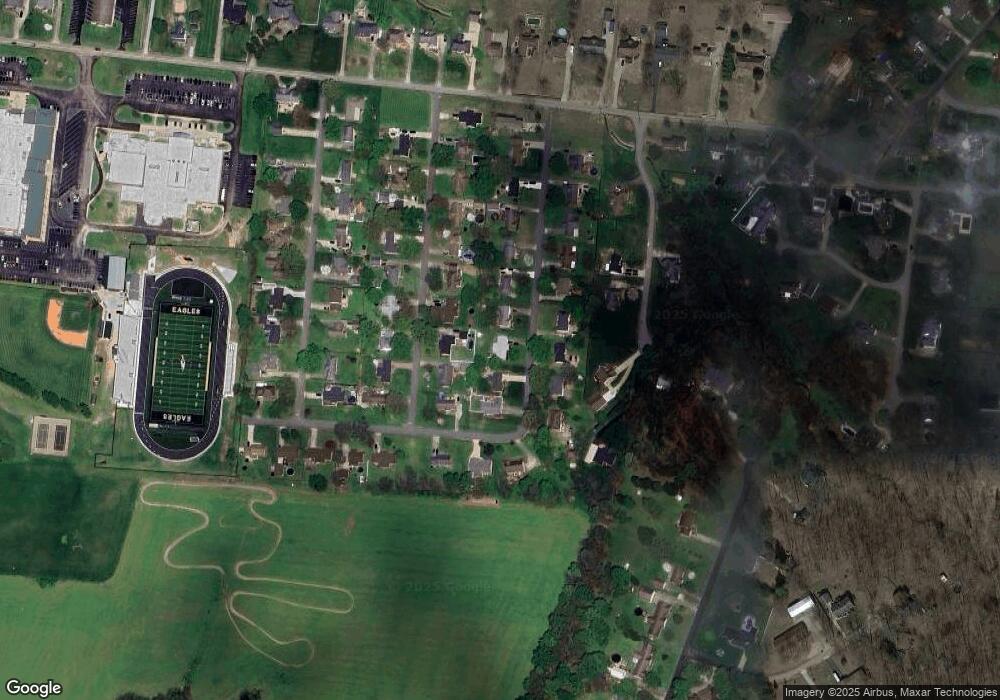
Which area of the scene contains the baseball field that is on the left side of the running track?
left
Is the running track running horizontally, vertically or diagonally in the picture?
vertically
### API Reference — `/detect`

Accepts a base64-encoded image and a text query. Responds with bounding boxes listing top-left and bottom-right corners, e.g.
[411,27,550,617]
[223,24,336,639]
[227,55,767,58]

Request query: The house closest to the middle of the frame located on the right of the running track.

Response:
[493,334,510,364]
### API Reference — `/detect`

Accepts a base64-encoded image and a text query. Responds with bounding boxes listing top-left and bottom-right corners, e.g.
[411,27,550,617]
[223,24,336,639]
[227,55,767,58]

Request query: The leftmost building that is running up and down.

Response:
[0,107,57,238]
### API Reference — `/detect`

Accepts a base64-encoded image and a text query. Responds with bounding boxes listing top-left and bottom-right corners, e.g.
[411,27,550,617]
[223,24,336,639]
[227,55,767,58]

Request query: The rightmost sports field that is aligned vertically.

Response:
[146,277,221,451]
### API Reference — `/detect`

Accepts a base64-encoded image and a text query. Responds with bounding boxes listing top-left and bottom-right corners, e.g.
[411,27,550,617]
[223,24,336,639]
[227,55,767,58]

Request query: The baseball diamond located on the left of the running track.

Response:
[0,288,100,392]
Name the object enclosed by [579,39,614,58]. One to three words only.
house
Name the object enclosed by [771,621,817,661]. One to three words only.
barn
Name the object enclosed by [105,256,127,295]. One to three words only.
building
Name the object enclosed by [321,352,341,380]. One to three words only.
house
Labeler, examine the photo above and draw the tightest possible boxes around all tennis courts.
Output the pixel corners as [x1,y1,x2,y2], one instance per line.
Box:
[54,426,66,450]
[37,424,49,448]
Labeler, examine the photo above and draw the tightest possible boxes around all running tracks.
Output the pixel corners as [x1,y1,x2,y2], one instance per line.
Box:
[136,267,231,462]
